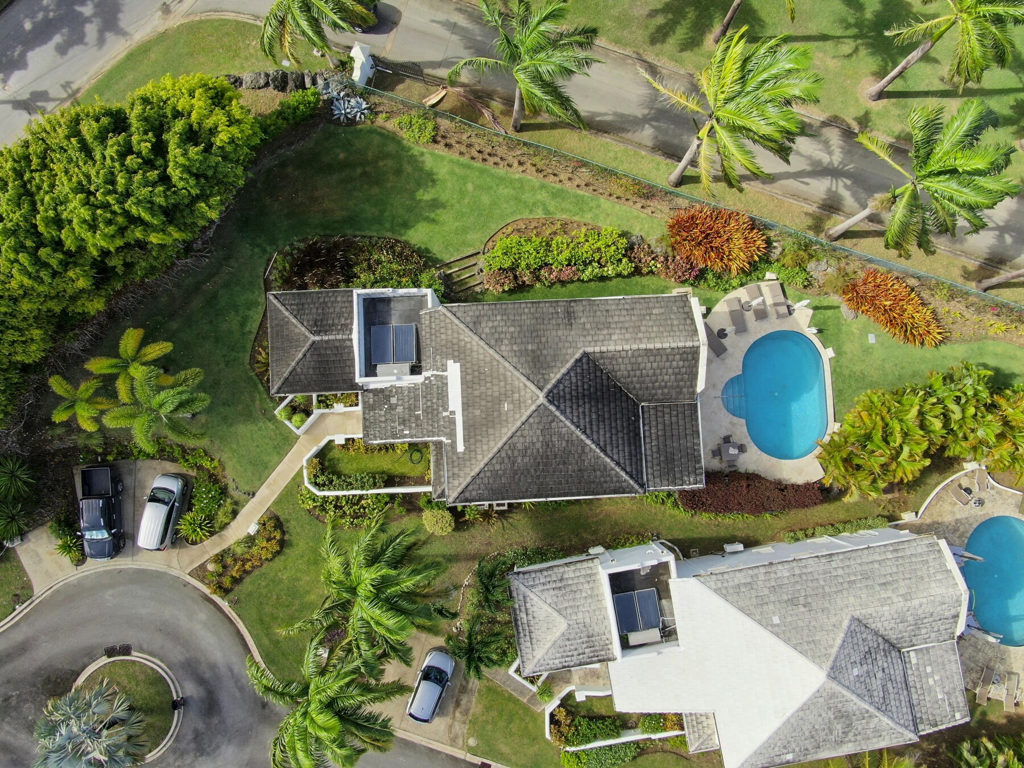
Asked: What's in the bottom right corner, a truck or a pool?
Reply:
pool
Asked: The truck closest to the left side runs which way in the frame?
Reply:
from top to bottom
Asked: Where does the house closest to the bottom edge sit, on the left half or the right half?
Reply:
right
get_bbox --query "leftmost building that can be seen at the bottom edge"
[508,526,978,768]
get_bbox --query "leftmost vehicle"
[78,455,132,559]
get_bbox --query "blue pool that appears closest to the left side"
[713,324,835,466]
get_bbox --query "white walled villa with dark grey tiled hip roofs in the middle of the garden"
[266,283,711,507]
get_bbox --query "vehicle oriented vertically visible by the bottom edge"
[408,642,456,730]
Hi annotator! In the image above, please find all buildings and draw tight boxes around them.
[508,526,978,768]
[266,283,711,507]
